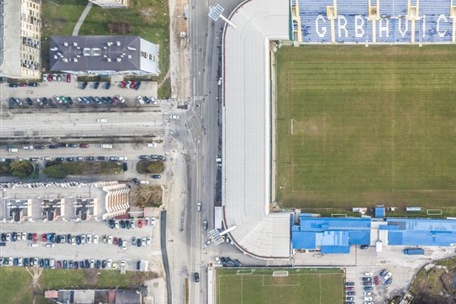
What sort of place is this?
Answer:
sports ground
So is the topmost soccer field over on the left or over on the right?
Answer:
right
